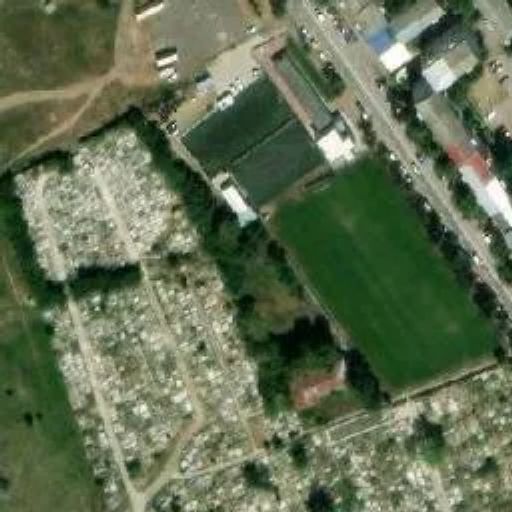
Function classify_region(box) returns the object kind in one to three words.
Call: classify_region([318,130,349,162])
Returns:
building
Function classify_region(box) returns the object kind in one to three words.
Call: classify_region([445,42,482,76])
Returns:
house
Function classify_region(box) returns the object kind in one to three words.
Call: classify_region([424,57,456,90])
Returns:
building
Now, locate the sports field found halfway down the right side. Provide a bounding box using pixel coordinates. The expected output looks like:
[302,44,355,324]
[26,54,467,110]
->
[272,158,502,400]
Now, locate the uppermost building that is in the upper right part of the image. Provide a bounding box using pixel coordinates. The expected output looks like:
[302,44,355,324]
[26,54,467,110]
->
[390,0,446,40]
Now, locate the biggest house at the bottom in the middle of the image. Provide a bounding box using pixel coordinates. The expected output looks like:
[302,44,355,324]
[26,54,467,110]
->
[290,376,326,408]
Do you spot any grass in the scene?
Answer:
Yes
